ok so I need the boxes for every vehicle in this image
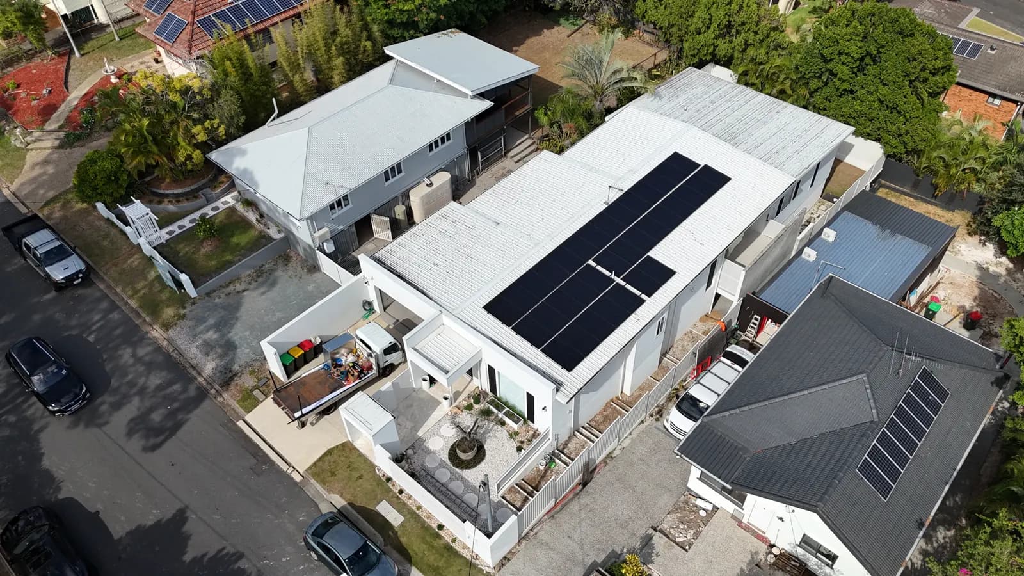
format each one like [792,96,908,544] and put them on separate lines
[4,217,88,290]
[301,513,399,576]
[7,333,84,413]
[265,315,403,425]
[1,507,90,576]
[665,346,751,440]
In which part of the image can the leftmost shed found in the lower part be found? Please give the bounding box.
[337,390,402,457]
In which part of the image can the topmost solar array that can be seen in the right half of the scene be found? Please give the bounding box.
[920,27,984,59]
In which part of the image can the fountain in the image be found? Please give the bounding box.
[97,54,120,83]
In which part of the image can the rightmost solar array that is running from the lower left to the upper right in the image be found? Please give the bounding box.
[862,357,959,492]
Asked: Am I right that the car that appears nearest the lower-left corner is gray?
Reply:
No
